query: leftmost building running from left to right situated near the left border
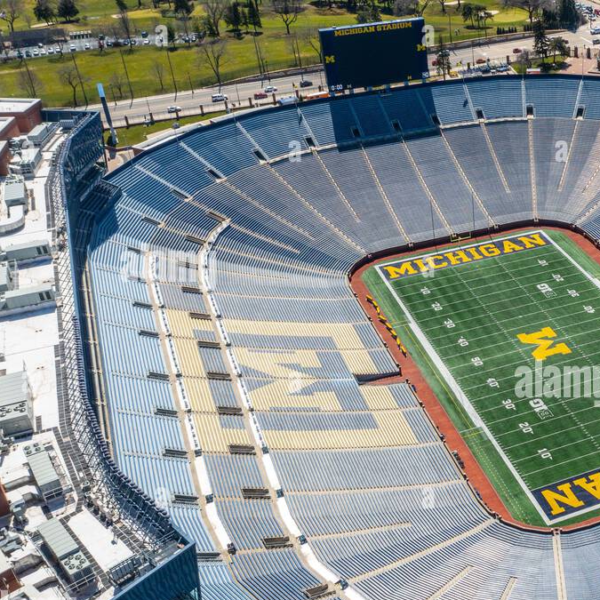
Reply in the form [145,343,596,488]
[1,19,73,50]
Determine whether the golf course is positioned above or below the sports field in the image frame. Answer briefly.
above it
